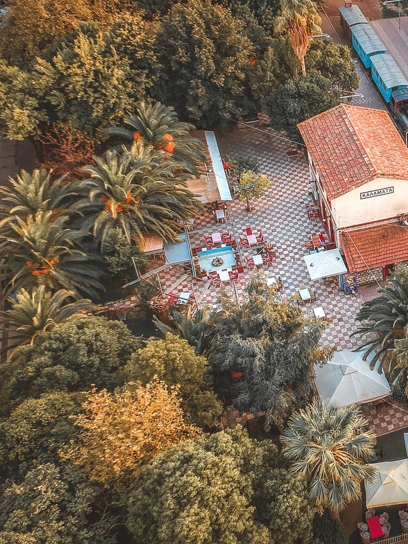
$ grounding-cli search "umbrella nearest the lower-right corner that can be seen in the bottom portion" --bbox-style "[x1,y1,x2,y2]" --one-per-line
[363,457,408,508]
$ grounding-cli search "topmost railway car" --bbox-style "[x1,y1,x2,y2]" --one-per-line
[352,25,387,75]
